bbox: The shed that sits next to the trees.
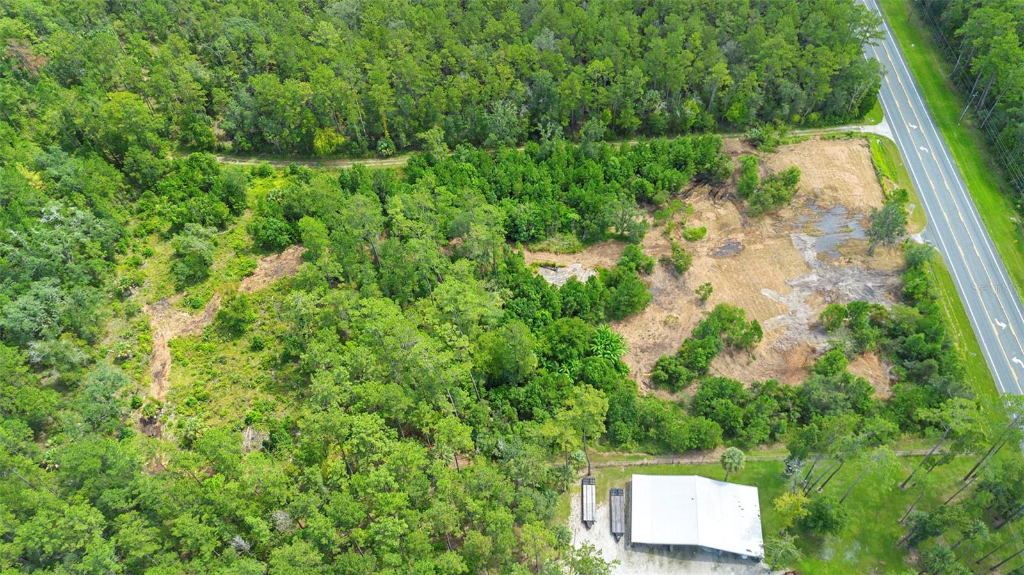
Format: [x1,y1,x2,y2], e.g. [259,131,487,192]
[631,475,765,562]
